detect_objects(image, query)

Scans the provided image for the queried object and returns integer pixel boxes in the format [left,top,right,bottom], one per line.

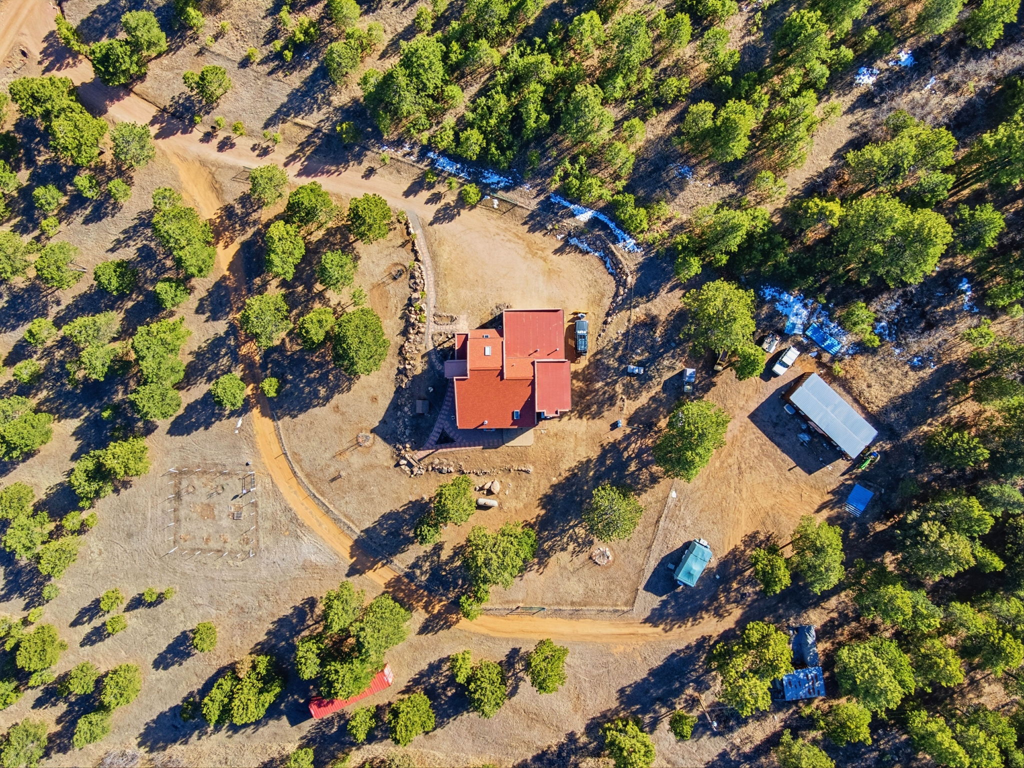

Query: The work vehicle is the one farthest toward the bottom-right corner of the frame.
[862,450,884,472]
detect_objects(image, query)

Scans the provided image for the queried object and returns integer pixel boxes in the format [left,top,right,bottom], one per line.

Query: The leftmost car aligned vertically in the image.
[575,321,590,357]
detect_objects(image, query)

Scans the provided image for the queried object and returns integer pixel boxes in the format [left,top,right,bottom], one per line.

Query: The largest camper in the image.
[675,540,709,582]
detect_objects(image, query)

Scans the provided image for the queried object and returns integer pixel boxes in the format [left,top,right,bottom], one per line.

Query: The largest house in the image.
[445,308,570,430]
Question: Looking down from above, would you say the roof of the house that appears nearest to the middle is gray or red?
red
